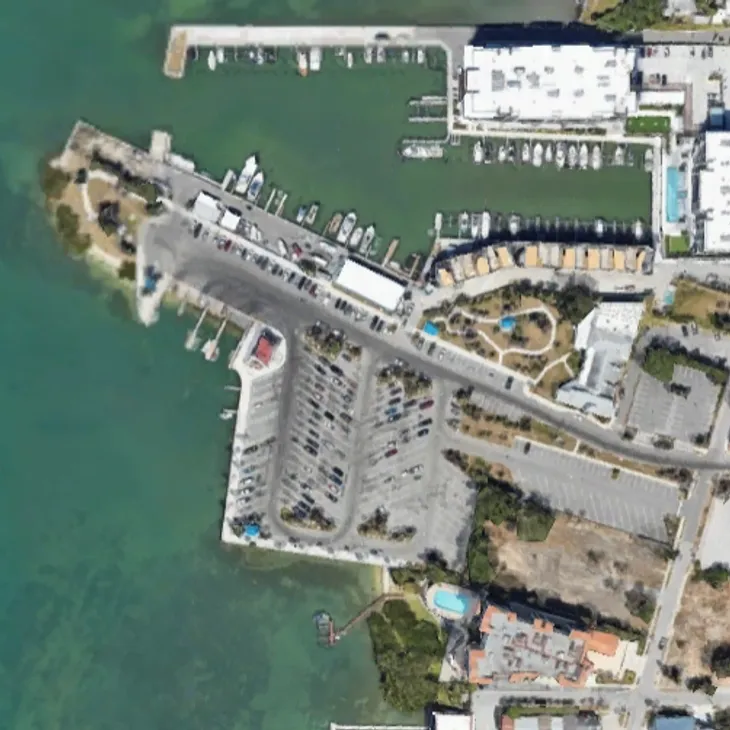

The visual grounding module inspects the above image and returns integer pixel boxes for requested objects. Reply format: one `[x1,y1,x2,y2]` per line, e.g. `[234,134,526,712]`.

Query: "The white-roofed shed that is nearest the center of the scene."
[336,259,405,311]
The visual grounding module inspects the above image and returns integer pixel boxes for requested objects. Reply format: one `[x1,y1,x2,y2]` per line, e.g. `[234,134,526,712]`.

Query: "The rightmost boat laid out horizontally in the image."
[402,145,446,158]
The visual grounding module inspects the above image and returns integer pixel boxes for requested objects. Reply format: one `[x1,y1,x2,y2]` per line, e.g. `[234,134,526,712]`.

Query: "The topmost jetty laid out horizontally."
[164,25,447,79]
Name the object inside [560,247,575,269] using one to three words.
house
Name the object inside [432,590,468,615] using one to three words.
swimming pool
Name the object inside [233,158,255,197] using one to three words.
boat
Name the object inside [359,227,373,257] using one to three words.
boat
